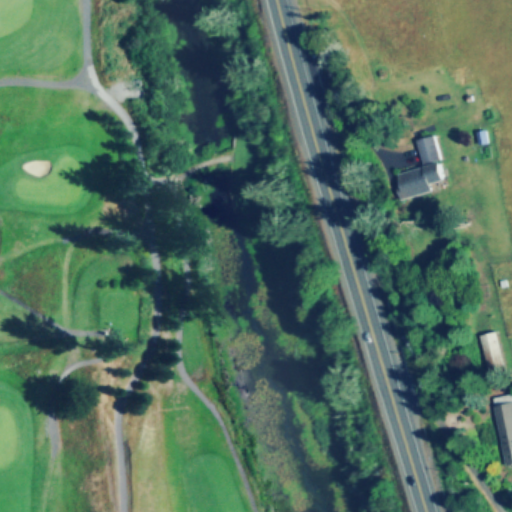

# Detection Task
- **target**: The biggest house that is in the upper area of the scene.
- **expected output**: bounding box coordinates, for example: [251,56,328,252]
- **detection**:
[395,135,448,200]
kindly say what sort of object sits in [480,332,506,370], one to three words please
barn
